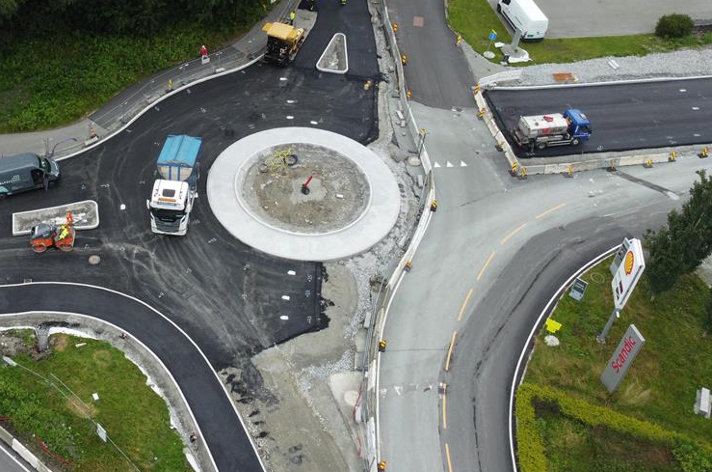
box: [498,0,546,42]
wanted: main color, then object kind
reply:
white van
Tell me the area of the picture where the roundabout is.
center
